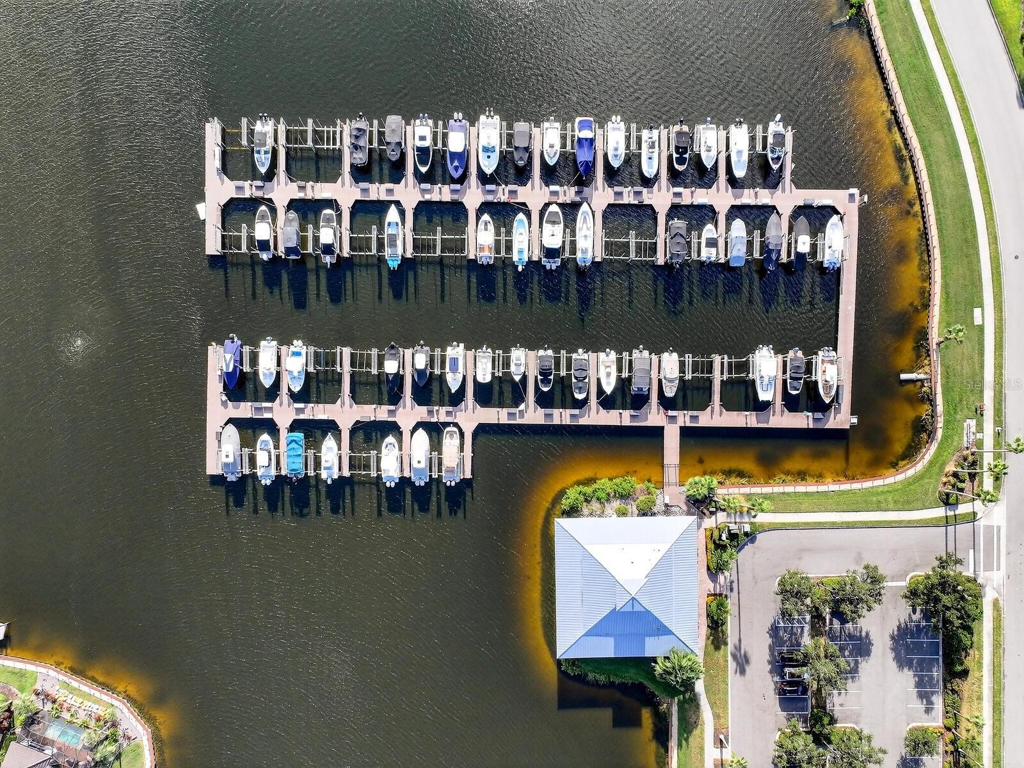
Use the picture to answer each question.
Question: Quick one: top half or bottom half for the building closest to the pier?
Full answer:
The building closest to the pier sits in the bottom half of the picture.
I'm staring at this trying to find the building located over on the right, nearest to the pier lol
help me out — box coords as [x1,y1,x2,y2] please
[554,513,700,659]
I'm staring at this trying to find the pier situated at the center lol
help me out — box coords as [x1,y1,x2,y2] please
[203,121,862,487]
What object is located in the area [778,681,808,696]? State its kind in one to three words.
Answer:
car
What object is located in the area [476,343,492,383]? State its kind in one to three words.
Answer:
boat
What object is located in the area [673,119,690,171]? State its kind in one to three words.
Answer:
boat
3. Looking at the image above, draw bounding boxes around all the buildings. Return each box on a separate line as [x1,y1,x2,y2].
[554,513,700,659]
[0,738,60,768]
